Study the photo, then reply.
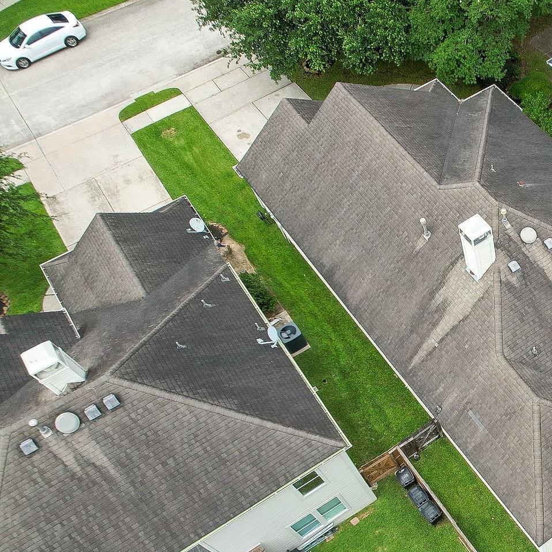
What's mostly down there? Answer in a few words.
buildings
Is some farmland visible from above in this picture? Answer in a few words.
No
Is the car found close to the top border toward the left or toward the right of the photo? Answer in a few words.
left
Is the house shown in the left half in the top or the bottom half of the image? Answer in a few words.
bottom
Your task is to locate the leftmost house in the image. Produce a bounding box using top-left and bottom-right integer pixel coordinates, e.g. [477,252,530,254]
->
[0,194,377,552]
